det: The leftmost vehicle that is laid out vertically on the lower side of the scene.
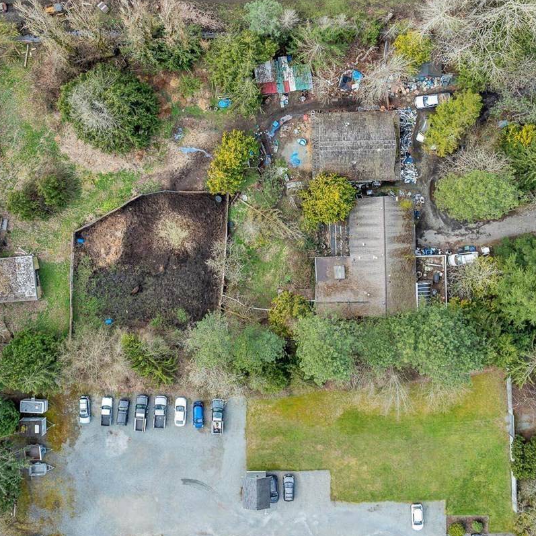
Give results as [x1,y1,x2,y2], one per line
[78,394,91,424]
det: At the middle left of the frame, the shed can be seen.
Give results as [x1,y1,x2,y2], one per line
[0,255,41,303]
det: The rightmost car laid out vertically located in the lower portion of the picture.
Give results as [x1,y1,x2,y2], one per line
[410,501,425,531]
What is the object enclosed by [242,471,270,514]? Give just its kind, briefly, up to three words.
shed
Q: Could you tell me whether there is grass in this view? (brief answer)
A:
Yes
